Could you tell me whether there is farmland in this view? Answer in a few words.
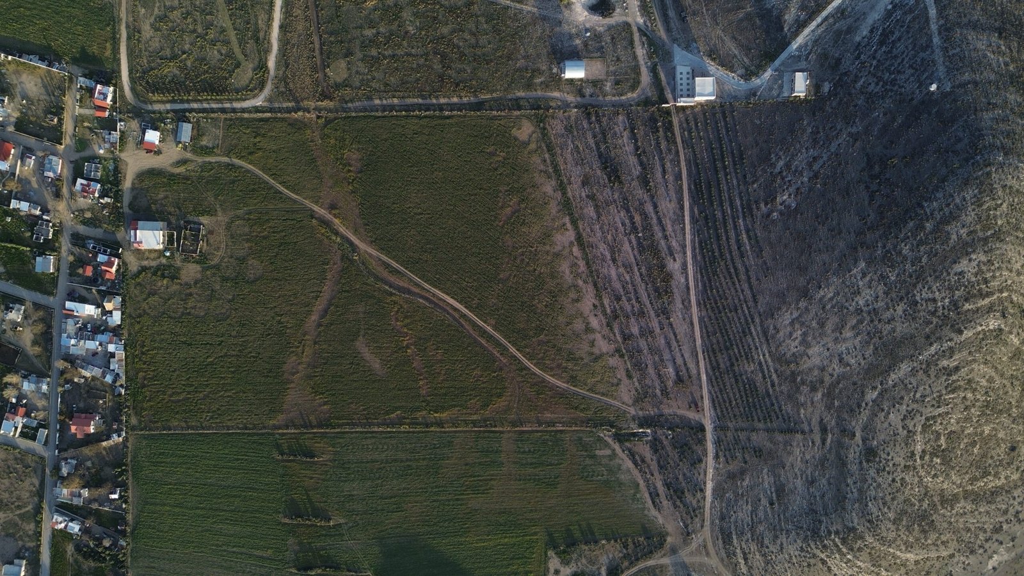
Yes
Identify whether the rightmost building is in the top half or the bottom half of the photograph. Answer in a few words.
top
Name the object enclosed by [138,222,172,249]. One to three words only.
building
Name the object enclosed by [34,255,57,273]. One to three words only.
house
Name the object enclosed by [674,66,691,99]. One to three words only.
building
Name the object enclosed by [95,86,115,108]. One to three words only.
house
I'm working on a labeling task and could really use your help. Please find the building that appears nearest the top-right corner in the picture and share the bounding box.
[781,73,808,95]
